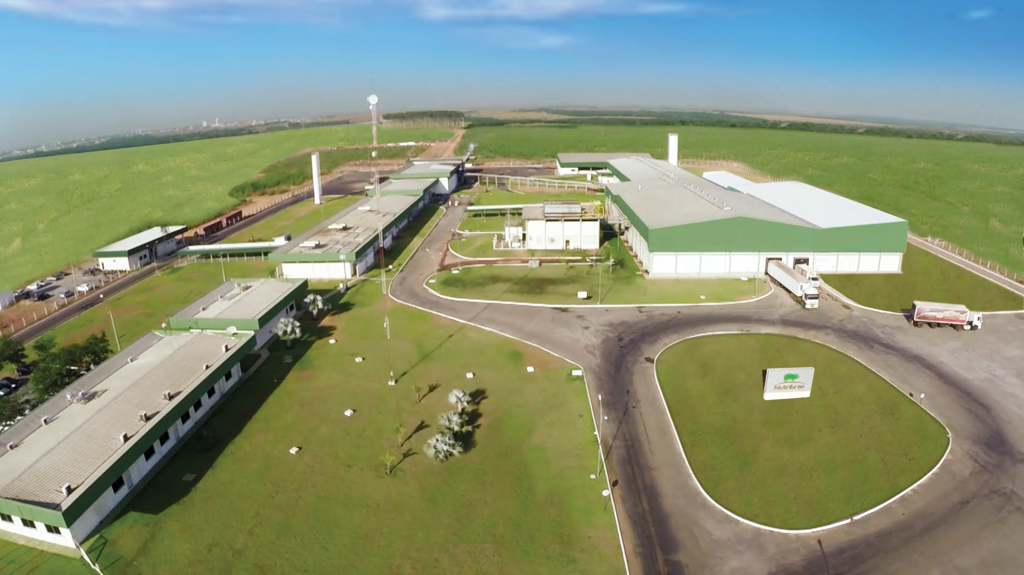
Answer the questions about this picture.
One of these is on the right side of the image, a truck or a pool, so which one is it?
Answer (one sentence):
There is a truck on the right side of the image.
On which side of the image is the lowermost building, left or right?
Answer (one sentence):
The lowermost building sits on the left side.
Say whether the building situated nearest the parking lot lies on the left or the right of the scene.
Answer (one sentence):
It is on the left.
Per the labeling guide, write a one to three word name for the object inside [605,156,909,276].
building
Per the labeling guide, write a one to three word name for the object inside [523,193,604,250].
building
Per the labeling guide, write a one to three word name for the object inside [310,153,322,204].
water tower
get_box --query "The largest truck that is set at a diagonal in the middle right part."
[769,257,825,305]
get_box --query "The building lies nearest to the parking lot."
[93,225,191,269]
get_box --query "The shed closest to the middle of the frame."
[491,210,526,250]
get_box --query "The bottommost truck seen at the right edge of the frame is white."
[912,299,985,331]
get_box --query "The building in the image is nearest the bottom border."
[0,329,259,548]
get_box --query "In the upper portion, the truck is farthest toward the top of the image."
[185,209,243,239]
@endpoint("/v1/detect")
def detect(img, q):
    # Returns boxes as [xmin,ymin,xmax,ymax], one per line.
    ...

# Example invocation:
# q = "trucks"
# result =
[185,209,243,239]
[912,299,985,331]
[796,261,830,289]
[769,257,825,305]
